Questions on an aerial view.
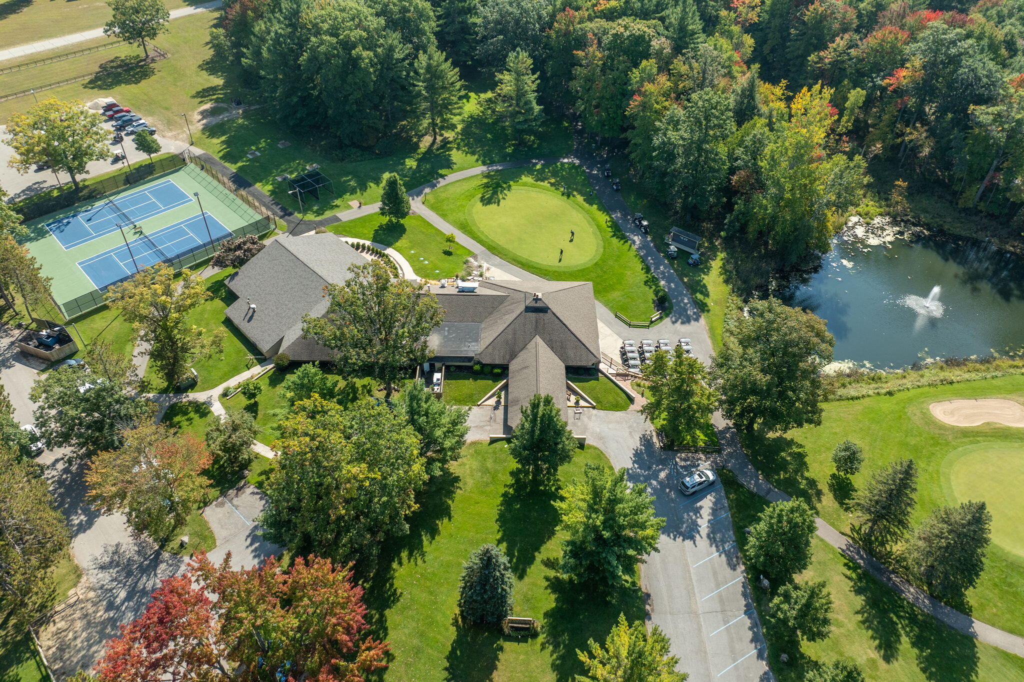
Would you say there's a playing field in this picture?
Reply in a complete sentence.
Yes, a playing field appears in the view.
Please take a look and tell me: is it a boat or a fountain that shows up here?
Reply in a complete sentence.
Of the two, only a fountain appears.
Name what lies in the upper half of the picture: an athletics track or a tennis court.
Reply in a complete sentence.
You can see a tennis court in the upper half of the picture.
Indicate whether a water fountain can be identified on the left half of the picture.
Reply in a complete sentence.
No, no water fountain can be made out on the left half of the picture.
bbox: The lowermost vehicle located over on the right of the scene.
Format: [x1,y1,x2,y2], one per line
[679,469,719,495]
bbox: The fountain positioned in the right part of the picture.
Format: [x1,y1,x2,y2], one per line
[878,282,946,321]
